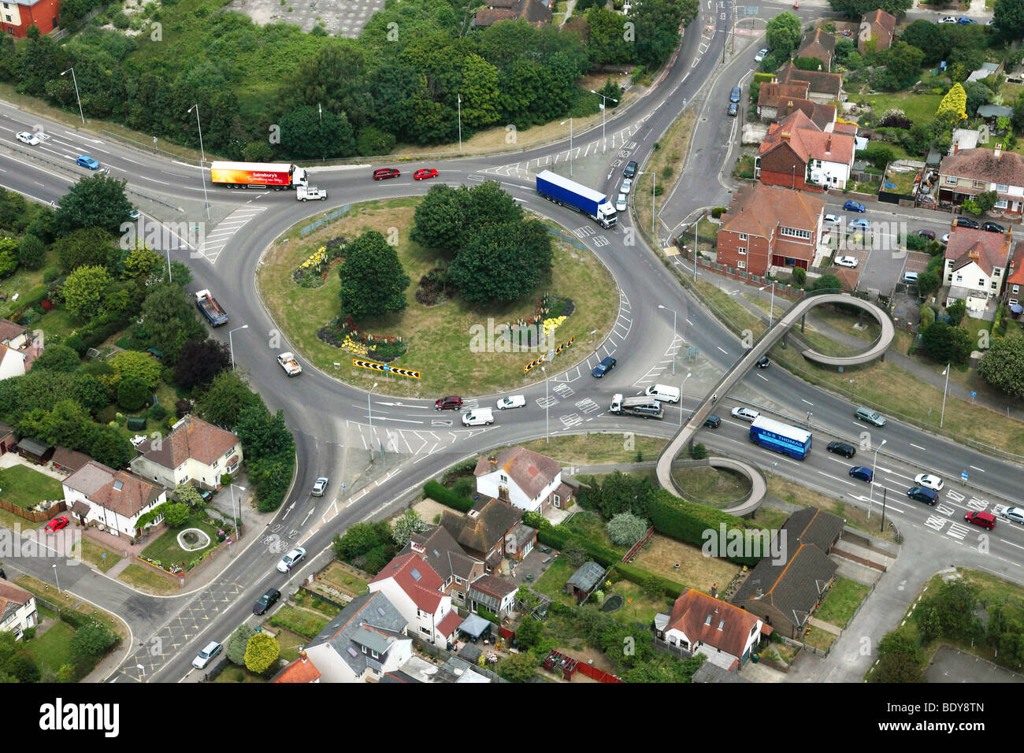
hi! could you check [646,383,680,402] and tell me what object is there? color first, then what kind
white vehicle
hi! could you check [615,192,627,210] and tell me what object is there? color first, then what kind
white vehicle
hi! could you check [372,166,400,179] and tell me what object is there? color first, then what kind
red vehicle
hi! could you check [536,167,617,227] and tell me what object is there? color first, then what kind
white truck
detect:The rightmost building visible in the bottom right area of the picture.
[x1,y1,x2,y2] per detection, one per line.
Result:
[726,494,848,645]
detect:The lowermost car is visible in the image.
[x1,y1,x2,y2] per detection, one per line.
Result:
[192,638,223,668]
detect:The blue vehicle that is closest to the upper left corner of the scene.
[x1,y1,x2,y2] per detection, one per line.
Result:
[76,154,99,168]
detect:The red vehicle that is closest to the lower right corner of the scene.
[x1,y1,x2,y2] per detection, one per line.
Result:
[964,508,996,528]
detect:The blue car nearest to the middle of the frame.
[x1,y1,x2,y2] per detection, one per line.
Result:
[592,354,618,377]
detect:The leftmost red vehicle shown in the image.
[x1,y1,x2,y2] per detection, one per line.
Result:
[41,513,72,534]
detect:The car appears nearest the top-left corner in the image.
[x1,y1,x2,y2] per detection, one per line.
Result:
[15,130,40,144]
